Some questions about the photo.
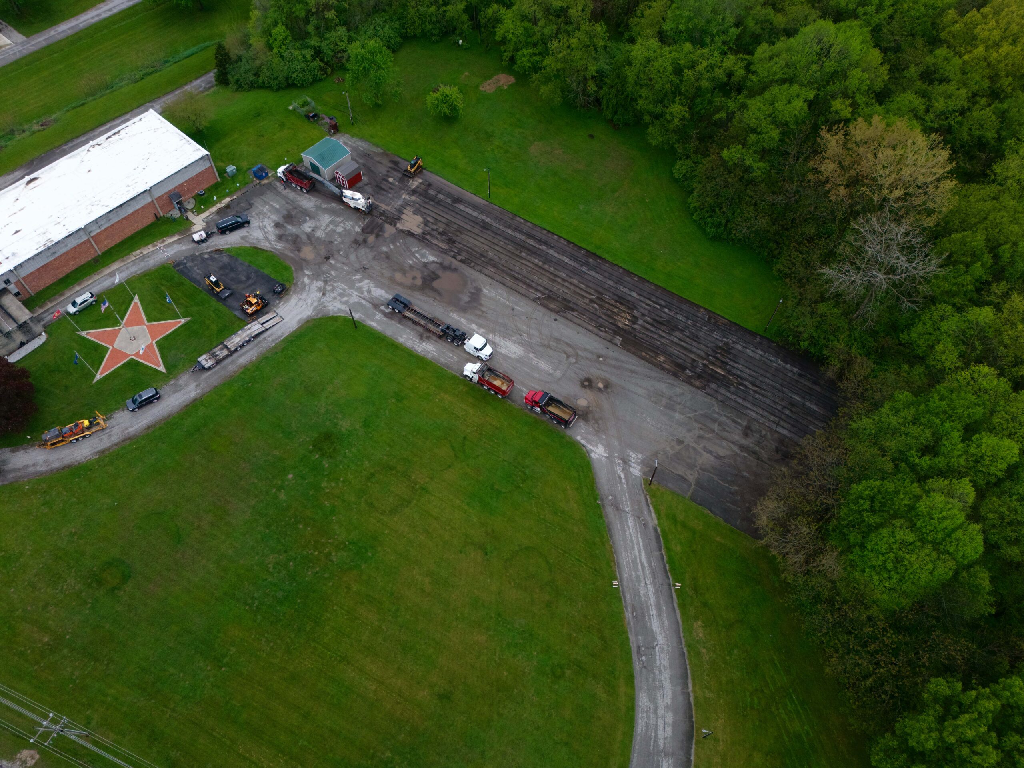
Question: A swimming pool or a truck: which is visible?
truck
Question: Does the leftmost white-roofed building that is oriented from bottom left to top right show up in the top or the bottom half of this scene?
top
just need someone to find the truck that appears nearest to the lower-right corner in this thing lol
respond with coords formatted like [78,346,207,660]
[522,390,579,429]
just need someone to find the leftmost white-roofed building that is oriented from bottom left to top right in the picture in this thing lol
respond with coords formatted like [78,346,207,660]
[0,106,221,338]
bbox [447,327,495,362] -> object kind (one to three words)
truck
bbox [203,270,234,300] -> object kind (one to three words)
work vehicle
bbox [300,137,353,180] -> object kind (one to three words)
shed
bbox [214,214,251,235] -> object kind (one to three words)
car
